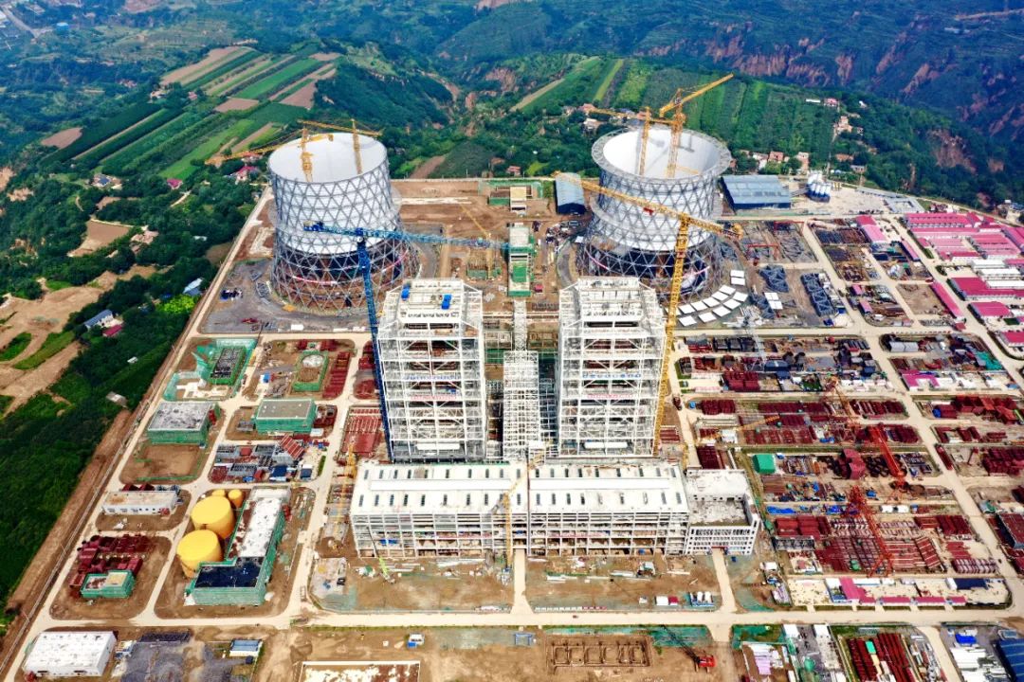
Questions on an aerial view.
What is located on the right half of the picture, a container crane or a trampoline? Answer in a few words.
container crane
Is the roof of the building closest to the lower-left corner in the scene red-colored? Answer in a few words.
No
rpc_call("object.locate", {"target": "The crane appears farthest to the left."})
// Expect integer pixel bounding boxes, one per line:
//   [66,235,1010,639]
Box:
[206,130,333,179]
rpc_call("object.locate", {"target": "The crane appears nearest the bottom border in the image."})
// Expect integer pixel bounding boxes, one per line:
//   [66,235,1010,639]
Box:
[664,625,720,666]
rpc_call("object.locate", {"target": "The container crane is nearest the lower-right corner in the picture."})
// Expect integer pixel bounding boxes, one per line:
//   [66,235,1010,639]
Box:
[845,490,898,575]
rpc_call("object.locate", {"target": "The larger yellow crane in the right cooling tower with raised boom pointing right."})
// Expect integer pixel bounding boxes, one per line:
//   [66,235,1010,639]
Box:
[660,74,734,171]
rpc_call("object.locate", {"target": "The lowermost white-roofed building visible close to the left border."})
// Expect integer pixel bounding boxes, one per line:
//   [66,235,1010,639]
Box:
[26,630,122,682]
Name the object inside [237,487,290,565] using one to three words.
building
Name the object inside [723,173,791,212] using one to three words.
shed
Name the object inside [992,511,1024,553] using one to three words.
shed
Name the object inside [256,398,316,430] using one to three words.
building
